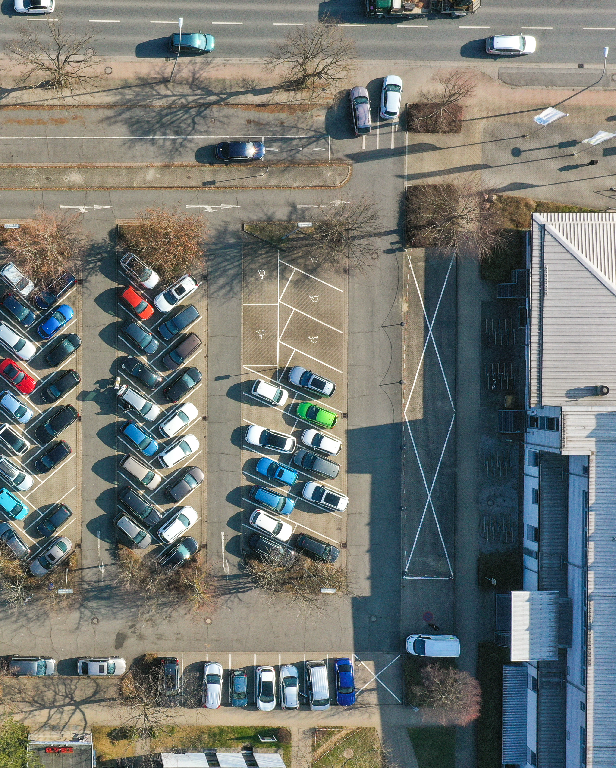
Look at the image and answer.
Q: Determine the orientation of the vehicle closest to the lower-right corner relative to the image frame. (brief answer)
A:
from side to side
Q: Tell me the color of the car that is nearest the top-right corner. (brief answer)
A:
white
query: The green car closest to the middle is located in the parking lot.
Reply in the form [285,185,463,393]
[296,401,338,430]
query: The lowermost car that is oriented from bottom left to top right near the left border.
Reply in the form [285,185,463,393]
[29,536,72,576]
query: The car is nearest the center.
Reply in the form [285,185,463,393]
[286,364,338,399]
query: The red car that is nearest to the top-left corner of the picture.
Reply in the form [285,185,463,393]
[119,285,153,320]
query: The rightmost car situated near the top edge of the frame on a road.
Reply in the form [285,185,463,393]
[484,32,536,56]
